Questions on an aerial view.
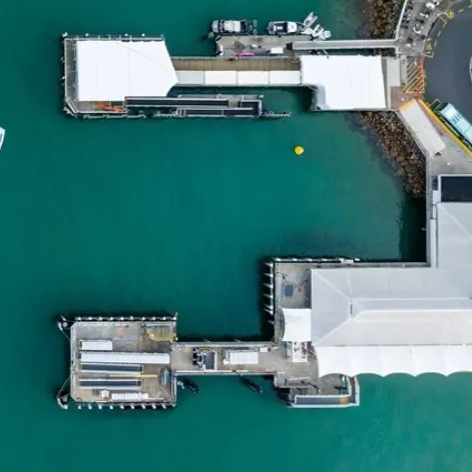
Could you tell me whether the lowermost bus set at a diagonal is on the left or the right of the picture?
right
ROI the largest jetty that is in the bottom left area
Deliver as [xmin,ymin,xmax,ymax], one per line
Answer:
[70,318,178,410]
